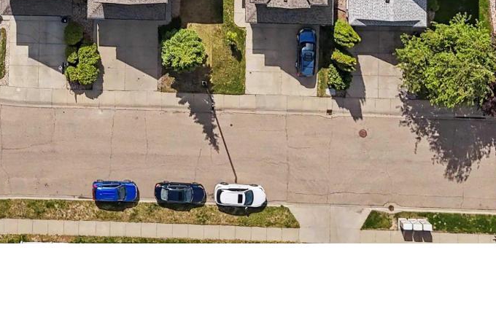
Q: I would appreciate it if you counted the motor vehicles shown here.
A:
4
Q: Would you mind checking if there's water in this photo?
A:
No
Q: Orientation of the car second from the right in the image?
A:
horizontally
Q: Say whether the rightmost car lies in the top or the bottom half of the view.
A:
top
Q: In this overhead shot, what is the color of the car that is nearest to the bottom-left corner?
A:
blue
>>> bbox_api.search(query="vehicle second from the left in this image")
[154,181,204,206]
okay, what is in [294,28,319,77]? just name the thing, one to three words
car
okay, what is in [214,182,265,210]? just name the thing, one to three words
car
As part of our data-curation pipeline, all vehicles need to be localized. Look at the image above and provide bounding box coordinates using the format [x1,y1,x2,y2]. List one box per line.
[92,179,138,204]
[214,182,265,210]
[294,28,319,77]
[154,181,204,206]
